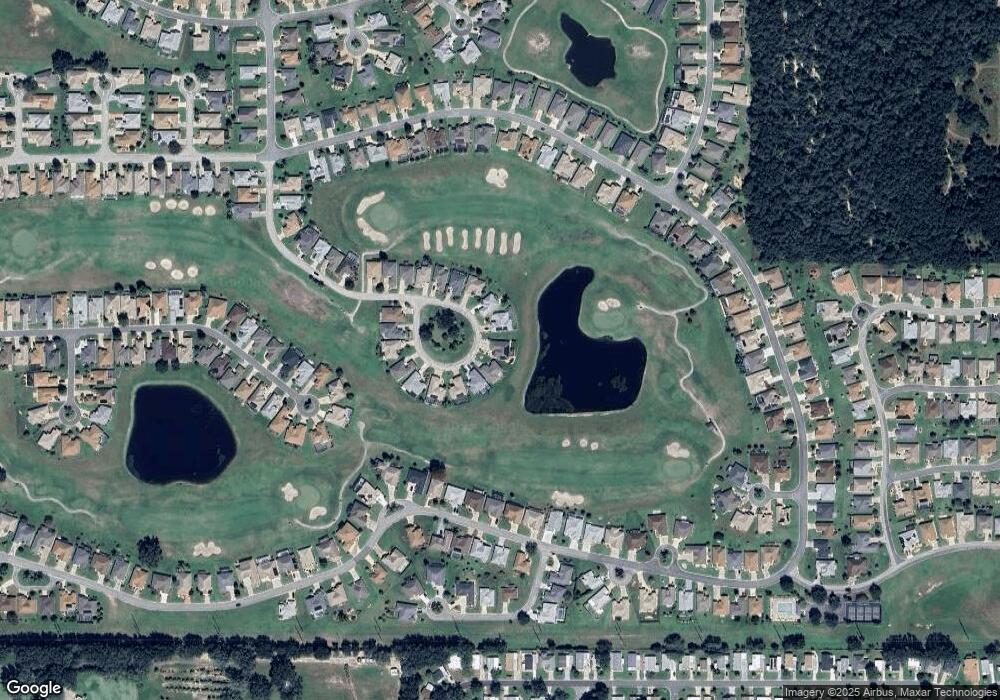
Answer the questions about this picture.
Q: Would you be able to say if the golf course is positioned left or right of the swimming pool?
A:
left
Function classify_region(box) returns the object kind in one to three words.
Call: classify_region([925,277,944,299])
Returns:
house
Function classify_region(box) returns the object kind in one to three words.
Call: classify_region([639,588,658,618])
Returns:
house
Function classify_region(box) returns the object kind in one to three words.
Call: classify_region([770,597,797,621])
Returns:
swimming pool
